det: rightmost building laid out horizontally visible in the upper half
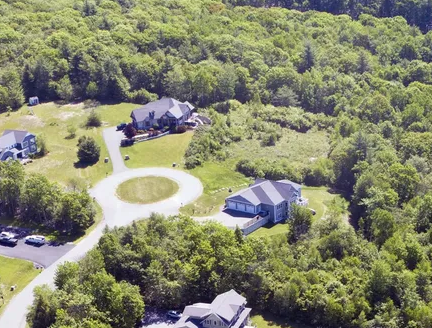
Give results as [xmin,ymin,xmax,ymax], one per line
[128,98,195,130]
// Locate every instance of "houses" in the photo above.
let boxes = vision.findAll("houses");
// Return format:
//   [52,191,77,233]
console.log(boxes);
[225,178,314,220]
[128,98,195,130]
[0,127,39,161]
[173,289,261,328]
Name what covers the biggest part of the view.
trees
